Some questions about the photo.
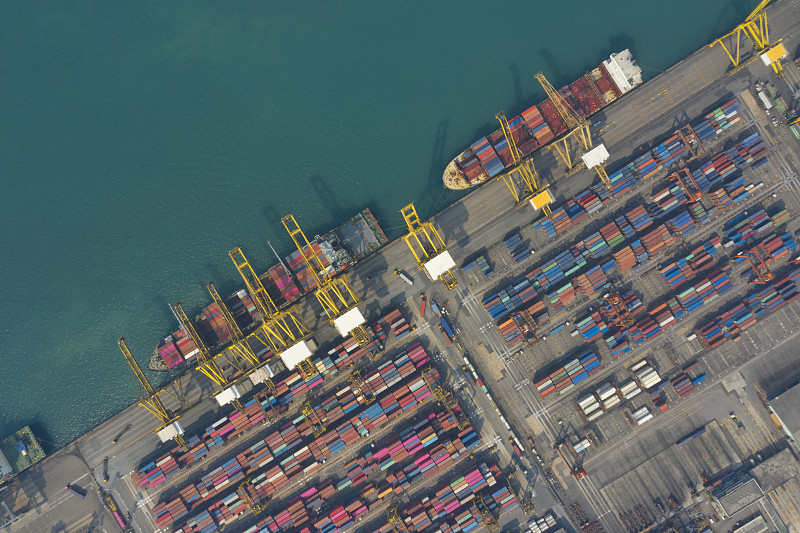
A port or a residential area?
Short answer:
port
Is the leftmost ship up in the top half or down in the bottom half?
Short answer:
bottom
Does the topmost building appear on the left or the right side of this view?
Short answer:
right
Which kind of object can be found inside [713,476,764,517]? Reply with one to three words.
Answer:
building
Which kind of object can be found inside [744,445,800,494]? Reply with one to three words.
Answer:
shed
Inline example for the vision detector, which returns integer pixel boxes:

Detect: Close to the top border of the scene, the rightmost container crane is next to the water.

[710,0,796,89]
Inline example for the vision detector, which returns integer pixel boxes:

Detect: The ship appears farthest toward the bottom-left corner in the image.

[0,425,101,483]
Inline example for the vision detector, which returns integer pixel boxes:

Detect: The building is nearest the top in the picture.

[762,379,800,465]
